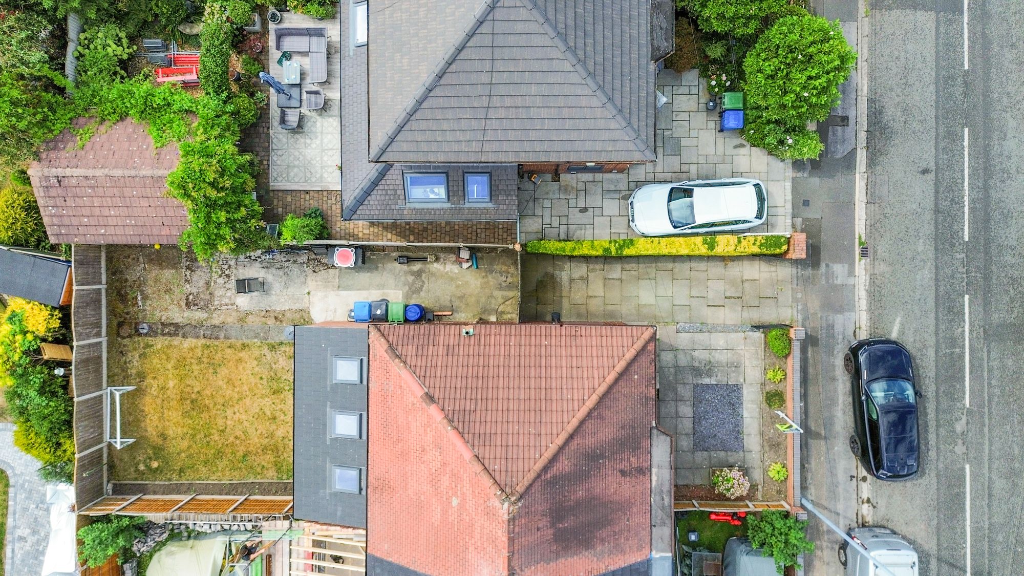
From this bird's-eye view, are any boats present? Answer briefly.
No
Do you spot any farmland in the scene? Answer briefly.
No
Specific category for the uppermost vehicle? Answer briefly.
automobile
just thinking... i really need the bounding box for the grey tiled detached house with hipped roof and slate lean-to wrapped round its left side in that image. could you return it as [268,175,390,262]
[338,0,676,224]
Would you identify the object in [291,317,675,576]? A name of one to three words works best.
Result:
house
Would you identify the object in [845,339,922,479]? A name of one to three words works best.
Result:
car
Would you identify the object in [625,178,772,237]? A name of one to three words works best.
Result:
car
